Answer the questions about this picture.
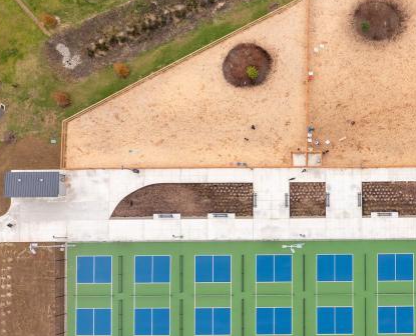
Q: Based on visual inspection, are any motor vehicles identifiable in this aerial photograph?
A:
No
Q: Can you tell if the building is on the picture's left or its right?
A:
left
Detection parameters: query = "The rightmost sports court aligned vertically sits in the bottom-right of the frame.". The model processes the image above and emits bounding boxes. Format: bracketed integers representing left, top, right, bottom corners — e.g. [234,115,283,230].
[377,253,414,334]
